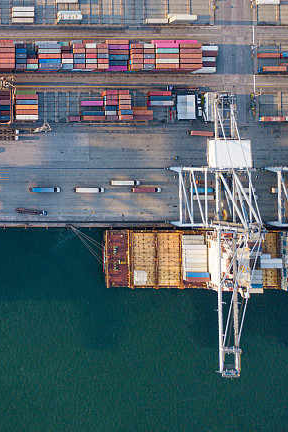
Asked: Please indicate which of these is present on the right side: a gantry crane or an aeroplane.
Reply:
gantry crane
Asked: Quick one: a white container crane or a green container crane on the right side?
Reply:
white container crane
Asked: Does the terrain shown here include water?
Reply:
Yes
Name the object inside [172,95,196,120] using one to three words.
building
